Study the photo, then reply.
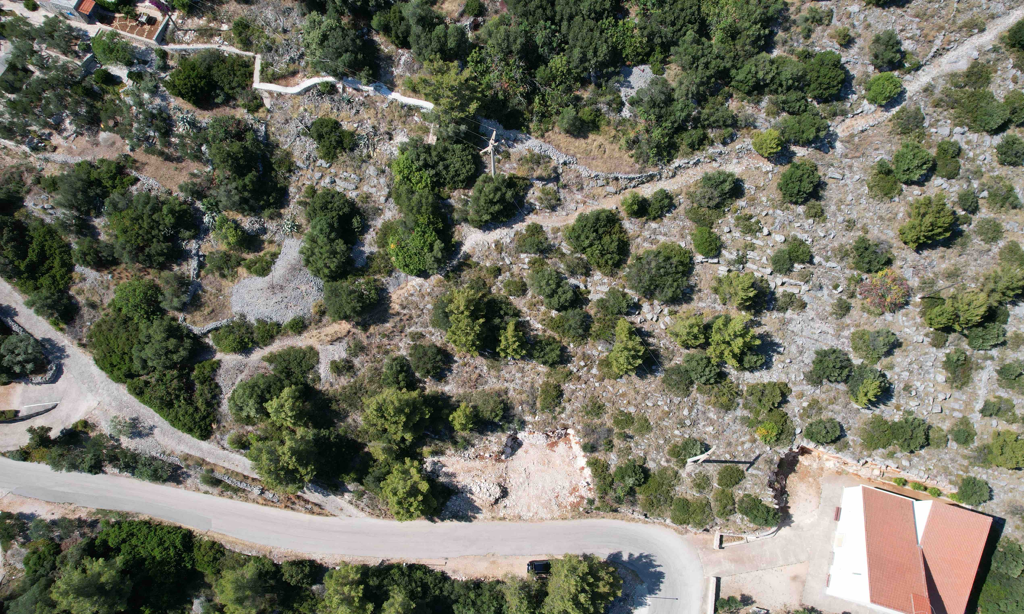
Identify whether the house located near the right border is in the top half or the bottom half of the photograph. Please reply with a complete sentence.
The house located near the right border sits in the bottom half of the picture.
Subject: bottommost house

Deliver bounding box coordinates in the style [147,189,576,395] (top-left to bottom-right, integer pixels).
[830,484,994,614]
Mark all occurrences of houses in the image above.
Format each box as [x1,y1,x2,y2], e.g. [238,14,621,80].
[830,484,994,614]
[22,0,94,24]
